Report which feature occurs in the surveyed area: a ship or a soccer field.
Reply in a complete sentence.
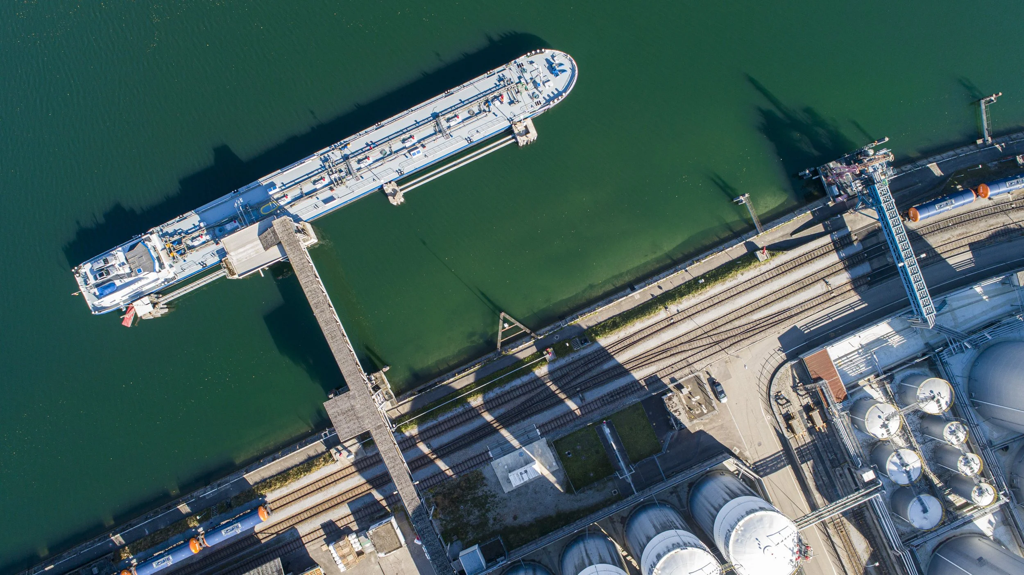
The one in the frame is a ship.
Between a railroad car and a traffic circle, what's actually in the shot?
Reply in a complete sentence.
Of the two, only a railroad car appears.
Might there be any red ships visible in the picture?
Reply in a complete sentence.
No, the frame has no red ship in it.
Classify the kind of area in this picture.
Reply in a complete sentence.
It's an industrial area.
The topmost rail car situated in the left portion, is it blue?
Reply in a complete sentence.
Yes, the topmost rail car situated in the left portion is blue.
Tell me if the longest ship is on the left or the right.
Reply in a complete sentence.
The longest ship sits on the left side.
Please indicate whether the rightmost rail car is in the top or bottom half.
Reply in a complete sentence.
The rightmost rail car sits in the top half of the picture.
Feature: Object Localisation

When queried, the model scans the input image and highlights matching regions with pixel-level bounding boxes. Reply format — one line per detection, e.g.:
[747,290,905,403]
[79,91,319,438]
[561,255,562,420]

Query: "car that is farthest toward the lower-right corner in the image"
[712,379,728,404]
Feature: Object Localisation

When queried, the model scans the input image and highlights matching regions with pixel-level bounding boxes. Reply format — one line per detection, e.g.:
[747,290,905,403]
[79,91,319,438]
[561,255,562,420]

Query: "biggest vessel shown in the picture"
[71,46,578,315]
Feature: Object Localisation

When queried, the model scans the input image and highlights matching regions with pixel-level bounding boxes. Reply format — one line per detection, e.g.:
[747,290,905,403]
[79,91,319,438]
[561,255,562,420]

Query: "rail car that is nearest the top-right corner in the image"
[974,174,1024,199]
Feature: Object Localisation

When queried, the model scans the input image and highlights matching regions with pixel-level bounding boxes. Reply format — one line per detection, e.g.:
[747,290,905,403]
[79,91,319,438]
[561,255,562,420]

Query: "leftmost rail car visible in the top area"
[901,188,980,223]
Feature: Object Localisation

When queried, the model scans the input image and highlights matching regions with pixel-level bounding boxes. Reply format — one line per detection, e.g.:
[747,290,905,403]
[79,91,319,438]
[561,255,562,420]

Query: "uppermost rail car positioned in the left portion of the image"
[203,501,276,546]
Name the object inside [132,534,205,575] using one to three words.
rail car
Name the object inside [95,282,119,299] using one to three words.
boat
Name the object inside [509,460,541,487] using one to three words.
shed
